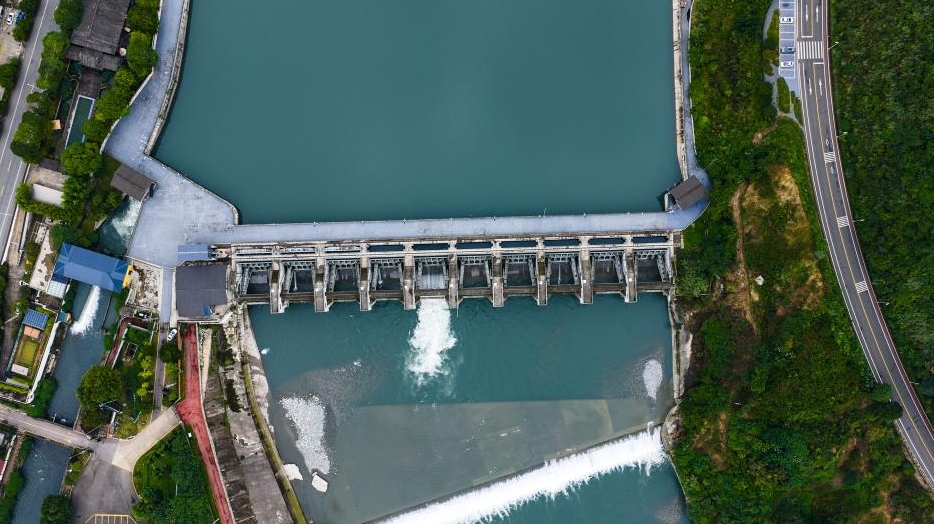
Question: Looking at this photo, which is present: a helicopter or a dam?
dam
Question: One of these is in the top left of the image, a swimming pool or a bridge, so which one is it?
swimming pool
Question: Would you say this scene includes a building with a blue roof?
Yes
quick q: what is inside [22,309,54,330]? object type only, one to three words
house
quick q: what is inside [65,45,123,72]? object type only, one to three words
building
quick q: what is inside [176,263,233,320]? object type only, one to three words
building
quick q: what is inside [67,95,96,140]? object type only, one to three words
swimming pool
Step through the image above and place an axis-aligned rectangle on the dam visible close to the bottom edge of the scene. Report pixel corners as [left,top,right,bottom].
[342,400,666,524]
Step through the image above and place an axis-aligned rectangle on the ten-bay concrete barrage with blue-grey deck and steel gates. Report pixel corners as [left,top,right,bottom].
[224,212,683,374]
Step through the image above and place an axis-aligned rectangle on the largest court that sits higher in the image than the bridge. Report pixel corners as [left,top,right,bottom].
[16,337,36,367]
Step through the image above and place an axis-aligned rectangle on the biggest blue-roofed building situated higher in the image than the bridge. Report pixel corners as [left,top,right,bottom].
[54,243,136,292]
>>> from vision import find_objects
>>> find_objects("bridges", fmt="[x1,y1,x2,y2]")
[21,413,91,451]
